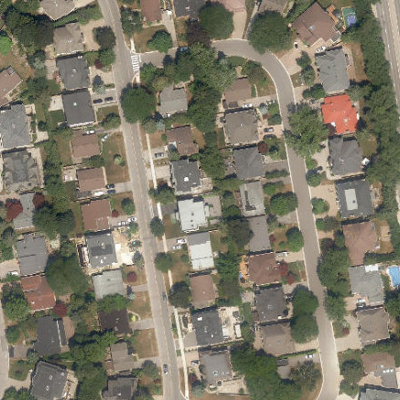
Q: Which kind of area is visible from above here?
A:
residential area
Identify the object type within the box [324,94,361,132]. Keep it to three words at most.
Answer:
house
